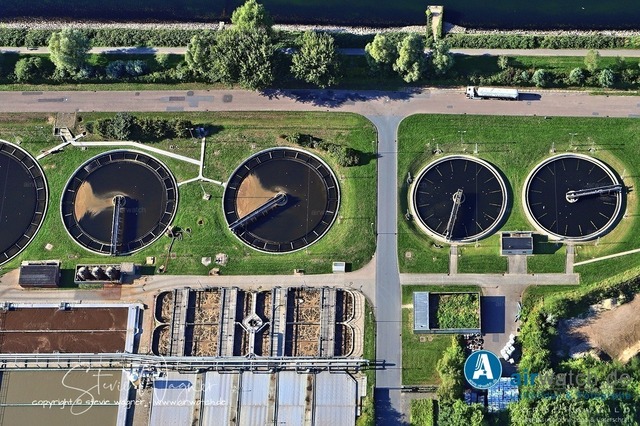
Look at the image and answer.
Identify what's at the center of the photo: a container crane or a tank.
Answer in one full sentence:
You can see a tank at the center of the photo.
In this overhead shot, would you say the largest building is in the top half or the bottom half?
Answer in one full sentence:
You can find the largest building in the bottom half.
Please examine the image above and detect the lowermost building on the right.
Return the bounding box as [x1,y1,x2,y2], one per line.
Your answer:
[413,291,483,334]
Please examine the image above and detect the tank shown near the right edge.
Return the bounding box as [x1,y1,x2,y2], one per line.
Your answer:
[524,152,624,242]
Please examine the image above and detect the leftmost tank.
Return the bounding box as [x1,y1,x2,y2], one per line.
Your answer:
[0,150,48,254]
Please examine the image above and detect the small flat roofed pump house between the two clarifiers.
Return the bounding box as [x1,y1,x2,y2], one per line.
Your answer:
[499,229,535,255]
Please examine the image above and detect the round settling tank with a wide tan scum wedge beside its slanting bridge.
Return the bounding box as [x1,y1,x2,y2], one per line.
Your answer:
[222,147,339,254]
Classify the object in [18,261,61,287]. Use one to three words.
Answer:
shed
